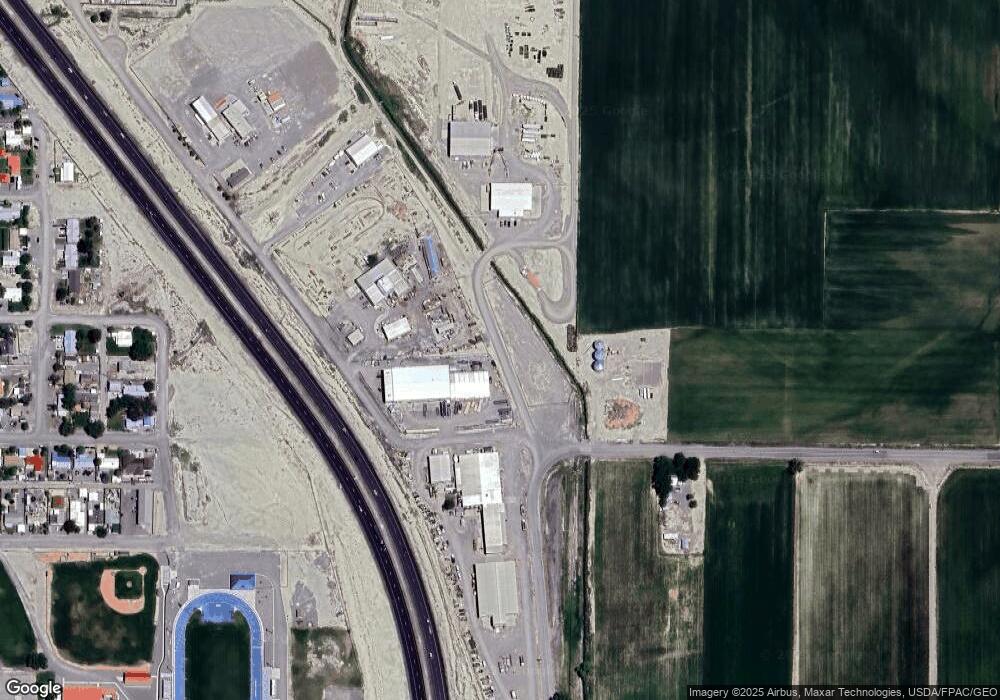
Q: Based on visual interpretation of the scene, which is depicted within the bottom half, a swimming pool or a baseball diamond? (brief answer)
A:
baseball diamond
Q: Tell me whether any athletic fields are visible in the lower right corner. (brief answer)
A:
No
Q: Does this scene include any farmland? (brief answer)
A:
Yes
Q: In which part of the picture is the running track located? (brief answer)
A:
bottom left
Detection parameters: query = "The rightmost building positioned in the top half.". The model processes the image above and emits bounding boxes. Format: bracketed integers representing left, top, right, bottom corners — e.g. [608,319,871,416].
[491,183,532,217]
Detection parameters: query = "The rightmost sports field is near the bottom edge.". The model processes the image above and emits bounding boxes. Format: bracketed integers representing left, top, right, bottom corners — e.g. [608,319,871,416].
[186,607,250,700]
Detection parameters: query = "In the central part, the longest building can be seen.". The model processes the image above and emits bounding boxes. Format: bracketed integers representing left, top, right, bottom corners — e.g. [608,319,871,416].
[384,365,489,402]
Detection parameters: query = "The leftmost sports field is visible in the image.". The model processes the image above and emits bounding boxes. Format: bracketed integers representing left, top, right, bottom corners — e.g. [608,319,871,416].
[0,559,34,666]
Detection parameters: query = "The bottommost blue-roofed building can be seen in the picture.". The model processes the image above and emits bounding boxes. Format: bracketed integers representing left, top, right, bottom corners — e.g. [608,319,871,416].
[231,575,255,590]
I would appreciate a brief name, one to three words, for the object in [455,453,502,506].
building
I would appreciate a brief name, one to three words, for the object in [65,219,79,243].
house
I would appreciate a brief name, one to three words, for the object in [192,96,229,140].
shed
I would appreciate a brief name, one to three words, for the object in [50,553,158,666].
baseball field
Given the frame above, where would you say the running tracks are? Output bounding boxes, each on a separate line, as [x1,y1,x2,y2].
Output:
[172,590,265,700]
